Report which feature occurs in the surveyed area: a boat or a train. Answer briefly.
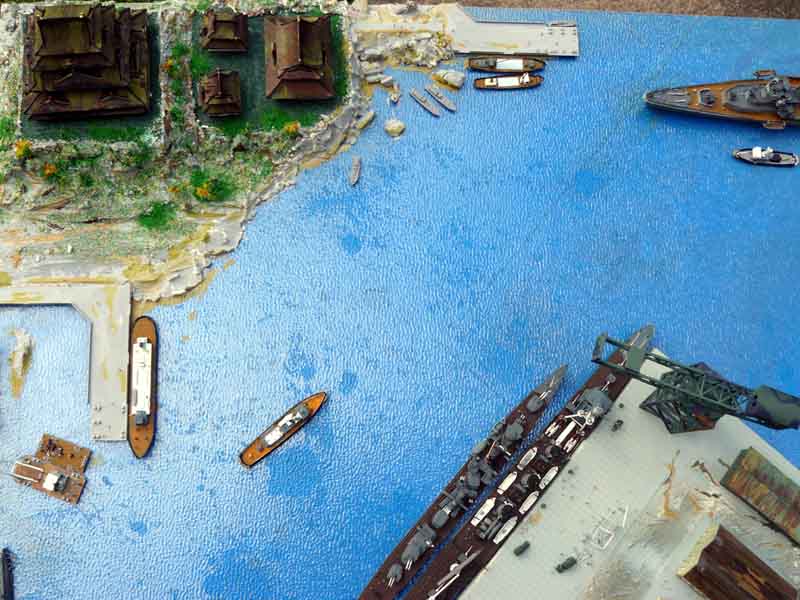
boat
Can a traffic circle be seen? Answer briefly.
No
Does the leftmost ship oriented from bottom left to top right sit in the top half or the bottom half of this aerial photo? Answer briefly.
bottom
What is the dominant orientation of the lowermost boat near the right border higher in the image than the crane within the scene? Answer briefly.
from left to right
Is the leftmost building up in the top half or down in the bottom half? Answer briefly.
top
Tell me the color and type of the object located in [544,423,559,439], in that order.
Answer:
white boat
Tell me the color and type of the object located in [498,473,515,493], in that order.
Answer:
white boat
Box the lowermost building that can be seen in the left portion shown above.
[195,62,243,119]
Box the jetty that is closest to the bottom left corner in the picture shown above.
[0,282,134,441]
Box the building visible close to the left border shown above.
[22,5,148,116]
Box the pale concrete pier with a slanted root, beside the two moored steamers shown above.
[448,5,580,60]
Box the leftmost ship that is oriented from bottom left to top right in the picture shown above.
[240,393,327,468]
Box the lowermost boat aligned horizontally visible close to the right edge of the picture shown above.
[730,148,799,167]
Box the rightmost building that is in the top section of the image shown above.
[264,8,338,105]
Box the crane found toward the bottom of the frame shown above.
[589,334,800,436]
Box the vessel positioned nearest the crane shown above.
[405,326,652,600]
